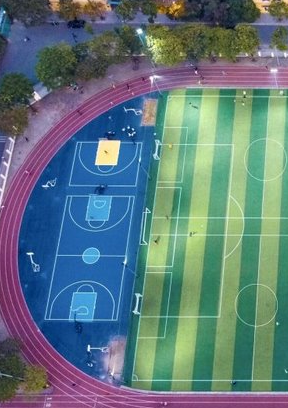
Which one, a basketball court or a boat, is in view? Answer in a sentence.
Looking from above, you can make out a basketball court.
